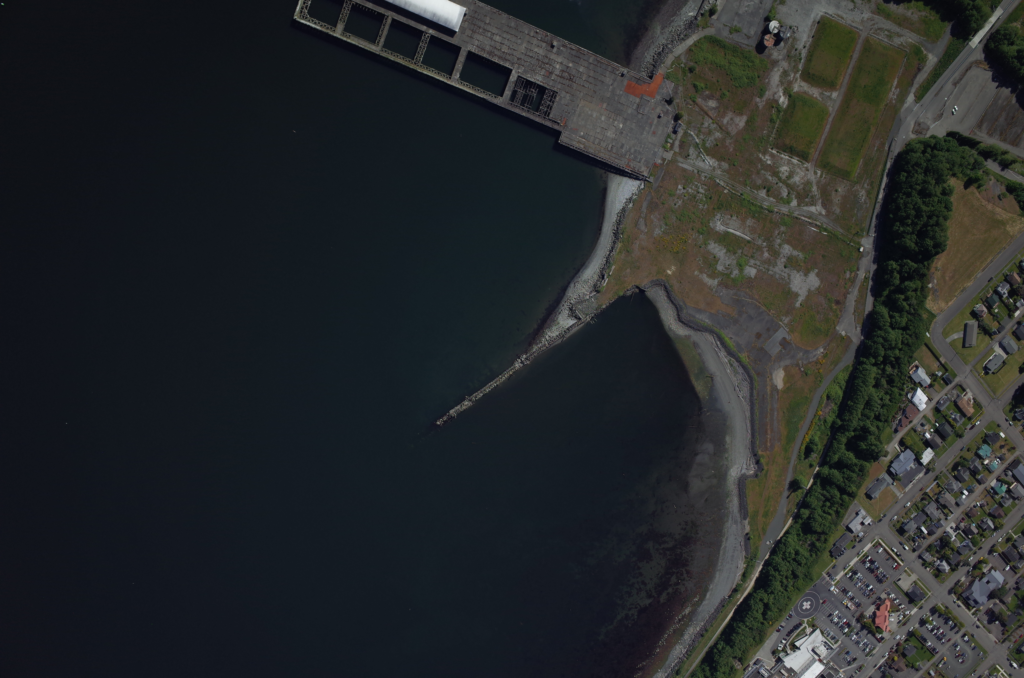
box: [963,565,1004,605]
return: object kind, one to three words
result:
building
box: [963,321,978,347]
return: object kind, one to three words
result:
house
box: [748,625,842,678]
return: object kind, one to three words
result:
building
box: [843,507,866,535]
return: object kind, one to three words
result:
house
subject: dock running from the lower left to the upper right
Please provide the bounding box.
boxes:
[436,318,584,424]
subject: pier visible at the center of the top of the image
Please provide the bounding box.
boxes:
[294,0,677,181]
